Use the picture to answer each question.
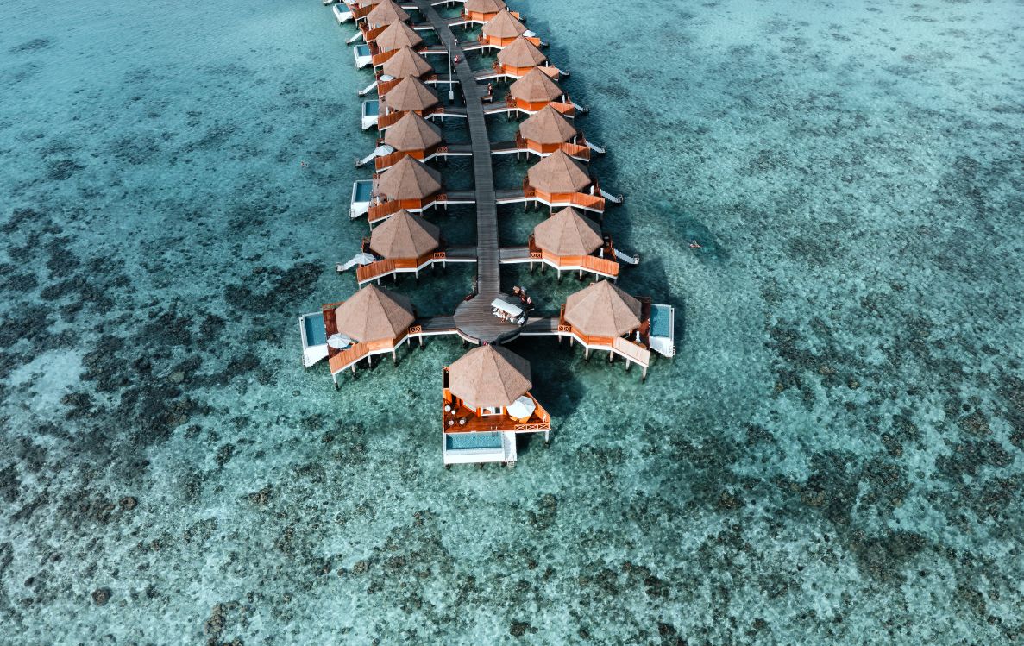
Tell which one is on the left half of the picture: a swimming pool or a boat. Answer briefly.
swimming pool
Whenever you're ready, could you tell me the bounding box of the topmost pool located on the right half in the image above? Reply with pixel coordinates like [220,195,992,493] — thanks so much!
[650,303,676,346]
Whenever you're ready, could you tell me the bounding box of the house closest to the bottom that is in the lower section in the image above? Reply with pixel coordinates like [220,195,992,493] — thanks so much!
[443,344,554,478]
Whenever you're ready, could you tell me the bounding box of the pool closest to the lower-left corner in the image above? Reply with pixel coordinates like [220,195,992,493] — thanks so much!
[300,311,328,357]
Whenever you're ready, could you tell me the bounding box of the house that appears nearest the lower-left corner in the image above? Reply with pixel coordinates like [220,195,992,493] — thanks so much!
[303,284,424,395]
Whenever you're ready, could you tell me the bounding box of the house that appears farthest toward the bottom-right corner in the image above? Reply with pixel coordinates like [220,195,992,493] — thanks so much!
[556,280,676,387]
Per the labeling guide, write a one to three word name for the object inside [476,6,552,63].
house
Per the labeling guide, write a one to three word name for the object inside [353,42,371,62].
swimming pool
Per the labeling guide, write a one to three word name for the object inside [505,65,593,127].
house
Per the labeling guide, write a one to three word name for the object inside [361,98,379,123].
swimming pool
